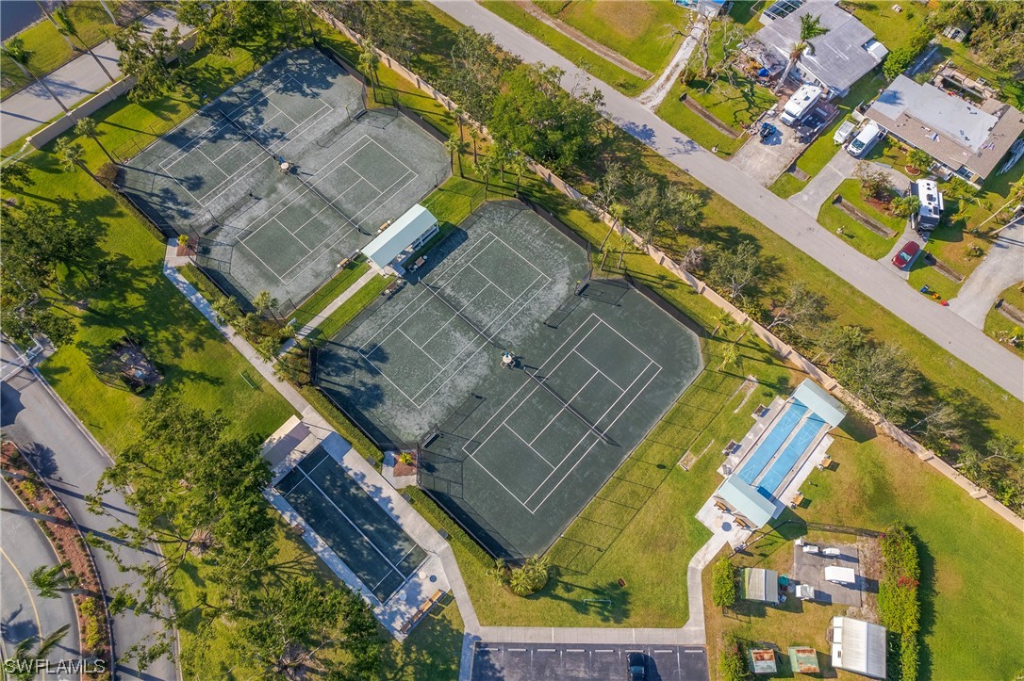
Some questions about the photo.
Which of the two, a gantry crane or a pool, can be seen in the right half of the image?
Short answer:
pool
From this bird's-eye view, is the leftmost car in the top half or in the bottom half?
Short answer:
bottom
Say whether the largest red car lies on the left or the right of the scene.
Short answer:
right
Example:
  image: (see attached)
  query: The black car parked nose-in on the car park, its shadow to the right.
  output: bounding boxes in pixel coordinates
[628,653,650,681]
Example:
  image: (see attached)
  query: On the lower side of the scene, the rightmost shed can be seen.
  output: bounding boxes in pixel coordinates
[832,617,887,679]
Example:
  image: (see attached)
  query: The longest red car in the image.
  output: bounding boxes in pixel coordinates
[890,240,921,270]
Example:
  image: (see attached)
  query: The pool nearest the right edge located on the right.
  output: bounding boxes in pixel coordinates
[934,55,1004,107]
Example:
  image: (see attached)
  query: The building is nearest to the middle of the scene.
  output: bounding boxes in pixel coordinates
[360,204,438,281]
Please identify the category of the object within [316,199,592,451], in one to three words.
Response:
tennis court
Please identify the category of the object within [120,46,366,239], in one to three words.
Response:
tennis court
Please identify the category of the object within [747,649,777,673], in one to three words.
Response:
shed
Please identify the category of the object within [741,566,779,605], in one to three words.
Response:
shed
